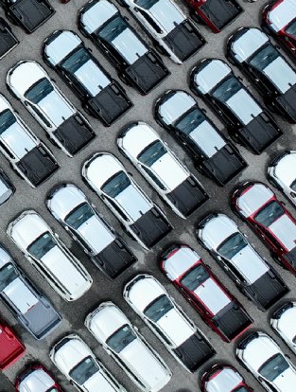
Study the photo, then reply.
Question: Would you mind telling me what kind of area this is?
parking lot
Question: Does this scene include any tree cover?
No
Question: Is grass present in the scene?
No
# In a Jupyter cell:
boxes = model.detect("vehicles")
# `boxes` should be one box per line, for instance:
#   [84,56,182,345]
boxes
[0,247,64,344]
[116,121,214,222]
[9,212,95,305]
[195,212,294,313]
[182,0,246,37]
[256,0,296,69]
[78,0,173,99]
[0,314,28,373]
[47,183,142,284]
[81,153,176,257]
[231,180,296,280]
[159,243,255,346]
[0,0,58,38]
[235,331,296,392]
[154,89,252,190]
[226,26,296,128]
[86,304,174,392]
[123,271,220,374]
[52,336,126,392]
[0,93,64,192]
[254,154,296,221]
[258,304,296,369]
[16,368,65,392]
[43,28,137,131]
[118,0,210,68]
[4,59,99,162]
[201,363,254,392]
[190,58,287,160]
